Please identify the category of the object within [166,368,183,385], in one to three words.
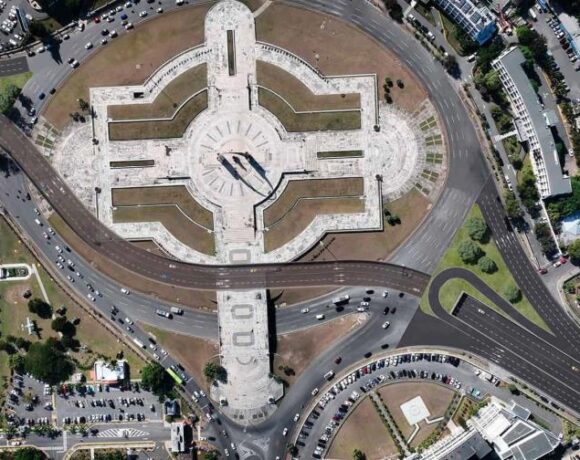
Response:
vehicle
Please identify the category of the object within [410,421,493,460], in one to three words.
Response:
building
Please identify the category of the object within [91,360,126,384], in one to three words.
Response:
house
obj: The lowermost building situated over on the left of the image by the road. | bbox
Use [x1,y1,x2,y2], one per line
[171,417,191,451]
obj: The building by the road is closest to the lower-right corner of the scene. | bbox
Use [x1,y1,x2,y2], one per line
[466,394,560,460]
